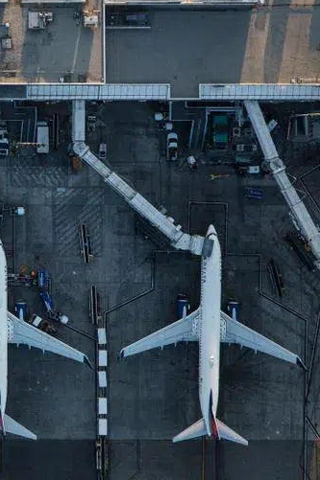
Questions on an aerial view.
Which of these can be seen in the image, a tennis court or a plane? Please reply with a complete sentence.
I can see a plane in this picture.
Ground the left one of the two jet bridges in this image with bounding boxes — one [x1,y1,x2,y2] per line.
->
[69,101,211,255]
